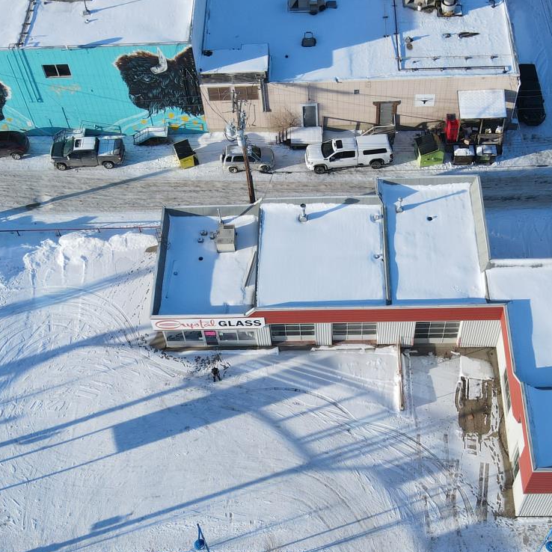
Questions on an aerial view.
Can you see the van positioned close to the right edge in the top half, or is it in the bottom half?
top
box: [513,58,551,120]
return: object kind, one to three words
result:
van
